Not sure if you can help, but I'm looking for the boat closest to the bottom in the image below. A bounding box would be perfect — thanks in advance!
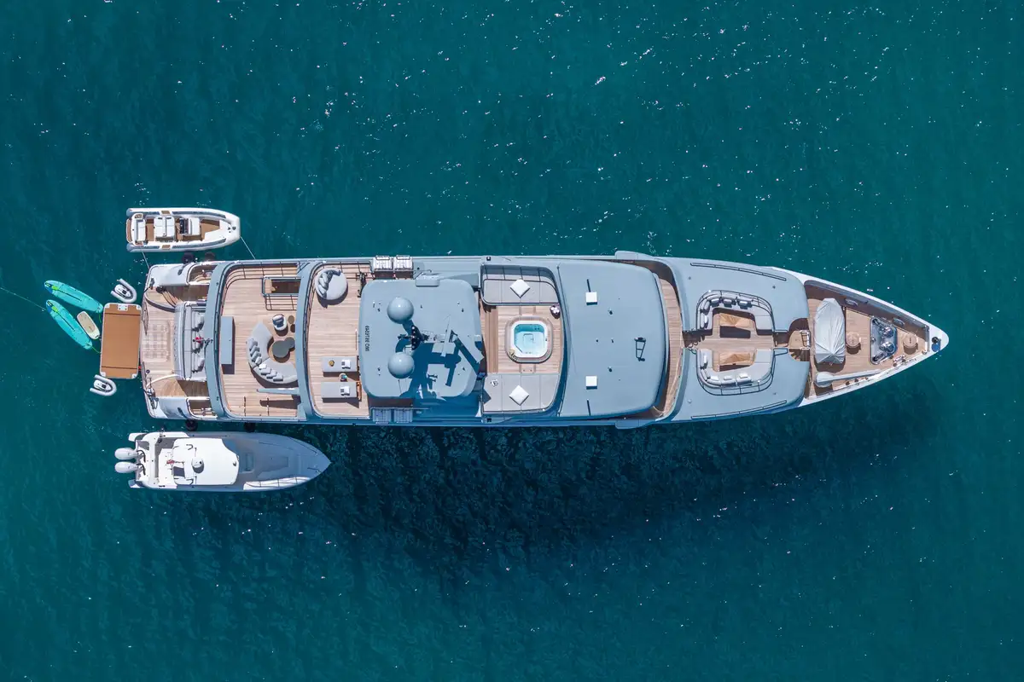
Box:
[114,429,331,492]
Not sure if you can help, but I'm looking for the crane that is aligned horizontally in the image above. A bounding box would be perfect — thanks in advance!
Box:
[813,369,880,385]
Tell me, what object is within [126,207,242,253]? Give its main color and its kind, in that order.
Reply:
white boat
